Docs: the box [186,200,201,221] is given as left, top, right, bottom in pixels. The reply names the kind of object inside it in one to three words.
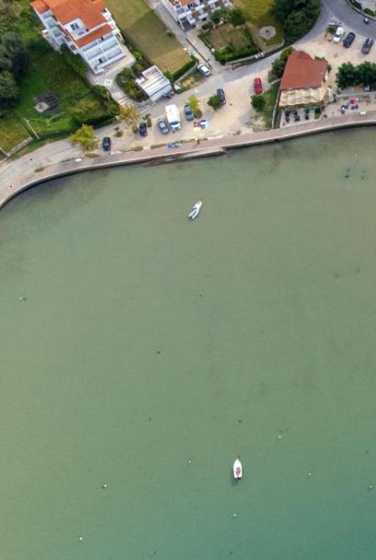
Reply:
boat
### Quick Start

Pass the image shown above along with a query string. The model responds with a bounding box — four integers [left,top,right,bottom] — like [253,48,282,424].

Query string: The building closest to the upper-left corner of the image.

[23,0,126,73]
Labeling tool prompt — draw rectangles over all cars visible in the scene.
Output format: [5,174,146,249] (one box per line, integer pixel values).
[331,26,344,41]
[197,62,211,77]
[344,33,355,48]
[101,137,112,153]
[157,120,169,137]
[253,78,264,93]
[362,38,374,54]
[138,122,148,138]
[183,104,191,122]
[217,88,227,104]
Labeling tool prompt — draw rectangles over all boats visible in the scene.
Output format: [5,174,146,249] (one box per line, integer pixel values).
[186,200,201,221]
[232,458,242,482]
